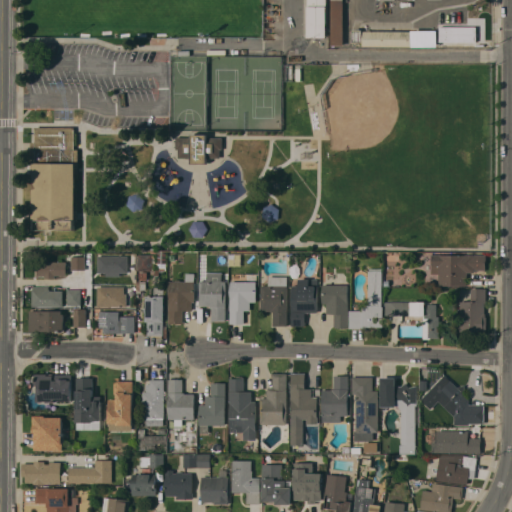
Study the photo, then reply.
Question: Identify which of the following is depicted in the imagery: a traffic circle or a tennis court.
tennis court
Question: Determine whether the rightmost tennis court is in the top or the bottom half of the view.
top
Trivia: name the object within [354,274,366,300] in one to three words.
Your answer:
swimming pool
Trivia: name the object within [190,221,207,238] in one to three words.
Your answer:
gazebo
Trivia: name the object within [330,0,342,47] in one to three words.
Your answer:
building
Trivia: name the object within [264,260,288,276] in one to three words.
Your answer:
swimming pool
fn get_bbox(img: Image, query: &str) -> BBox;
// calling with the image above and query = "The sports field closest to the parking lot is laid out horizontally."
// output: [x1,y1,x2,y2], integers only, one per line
[24,0,262,46]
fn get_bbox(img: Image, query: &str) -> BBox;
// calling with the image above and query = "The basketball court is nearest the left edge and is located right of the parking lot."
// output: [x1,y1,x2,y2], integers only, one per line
[172,56,208,130]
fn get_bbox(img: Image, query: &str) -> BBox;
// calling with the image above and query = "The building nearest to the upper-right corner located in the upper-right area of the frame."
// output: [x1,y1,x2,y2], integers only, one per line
[438,26,476,46]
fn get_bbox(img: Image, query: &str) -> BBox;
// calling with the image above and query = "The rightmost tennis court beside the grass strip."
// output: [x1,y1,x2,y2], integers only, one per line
[247,57,282,130]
